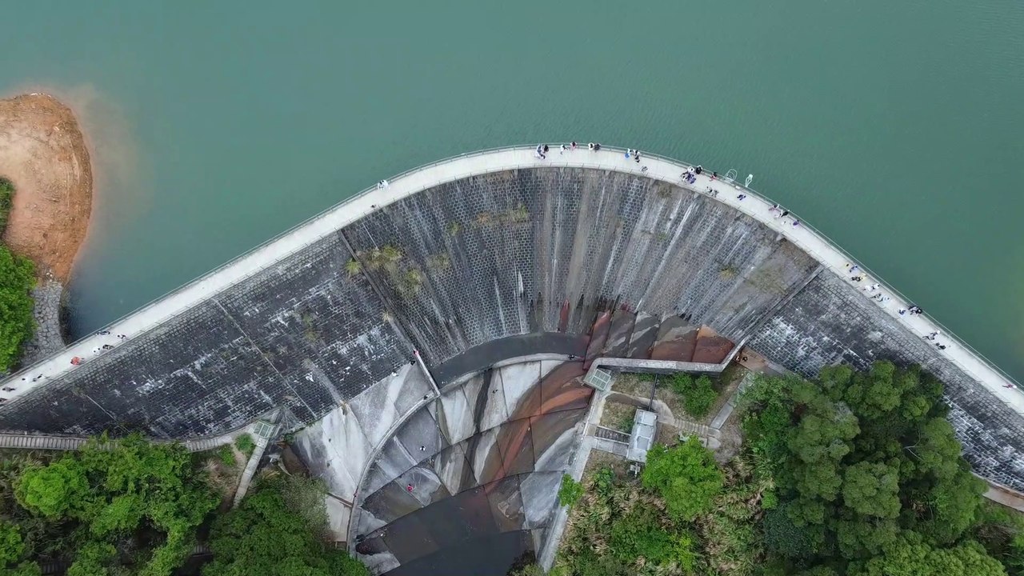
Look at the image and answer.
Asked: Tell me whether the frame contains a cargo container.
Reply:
No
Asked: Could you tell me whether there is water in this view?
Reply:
Yes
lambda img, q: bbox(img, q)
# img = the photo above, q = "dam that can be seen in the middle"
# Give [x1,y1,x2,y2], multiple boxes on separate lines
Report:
[0,144,1024,492]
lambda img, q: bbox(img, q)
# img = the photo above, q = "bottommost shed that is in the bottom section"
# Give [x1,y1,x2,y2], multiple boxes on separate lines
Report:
[625,409,657,462]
